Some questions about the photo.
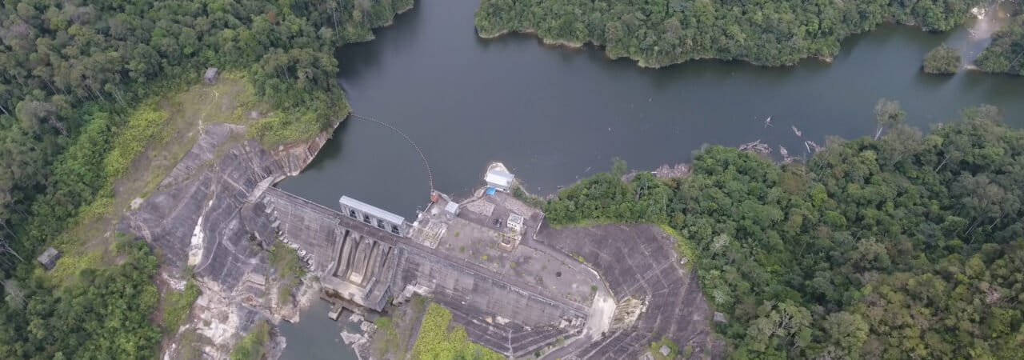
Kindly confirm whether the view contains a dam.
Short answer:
Yes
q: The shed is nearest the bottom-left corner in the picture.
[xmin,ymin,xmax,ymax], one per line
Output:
[33,250,59,274]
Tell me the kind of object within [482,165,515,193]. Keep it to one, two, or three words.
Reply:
building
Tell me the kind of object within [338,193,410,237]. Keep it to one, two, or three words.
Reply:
building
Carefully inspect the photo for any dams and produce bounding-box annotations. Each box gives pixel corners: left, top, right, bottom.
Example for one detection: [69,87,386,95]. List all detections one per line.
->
[261,182,597,330]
